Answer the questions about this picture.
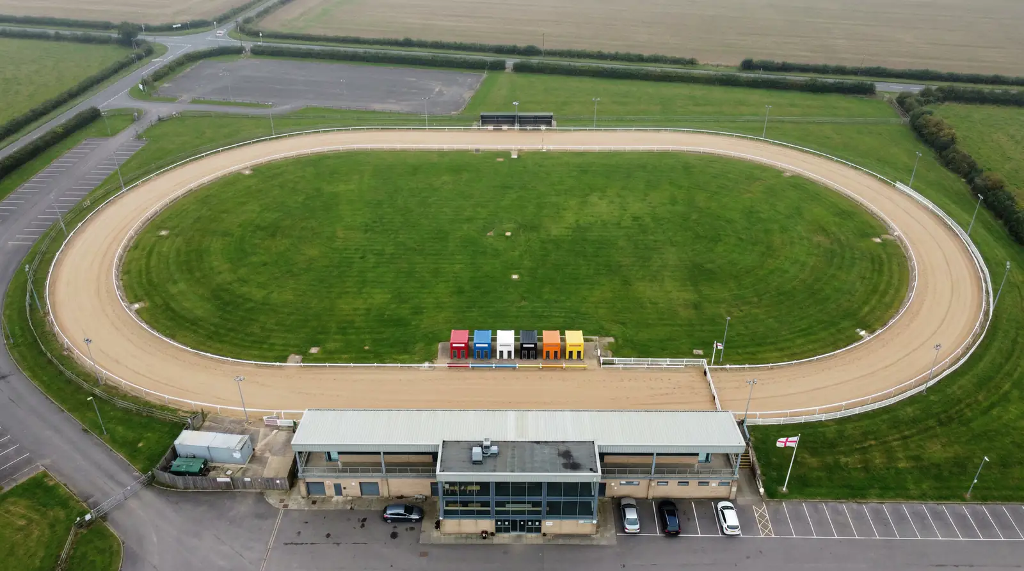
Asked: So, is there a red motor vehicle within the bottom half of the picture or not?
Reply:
No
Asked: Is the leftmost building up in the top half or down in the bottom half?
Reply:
bottom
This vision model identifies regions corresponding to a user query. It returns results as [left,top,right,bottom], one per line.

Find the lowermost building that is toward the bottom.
[173,429,254,466]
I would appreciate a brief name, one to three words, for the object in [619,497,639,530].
car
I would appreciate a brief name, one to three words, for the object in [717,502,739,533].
car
